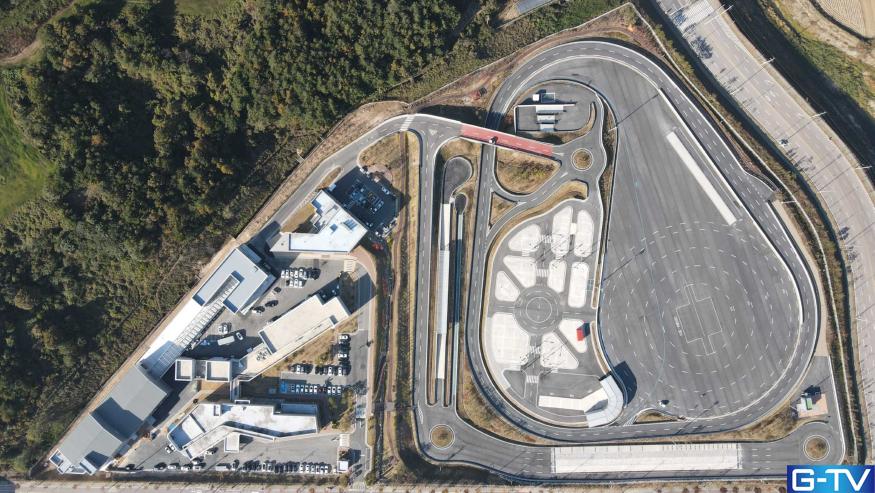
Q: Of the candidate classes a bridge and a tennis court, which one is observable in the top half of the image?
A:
bridge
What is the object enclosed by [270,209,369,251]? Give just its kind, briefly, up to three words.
building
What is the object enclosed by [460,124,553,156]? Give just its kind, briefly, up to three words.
bridge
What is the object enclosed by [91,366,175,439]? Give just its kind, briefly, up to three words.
hangar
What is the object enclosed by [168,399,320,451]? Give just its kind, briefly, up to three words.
building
